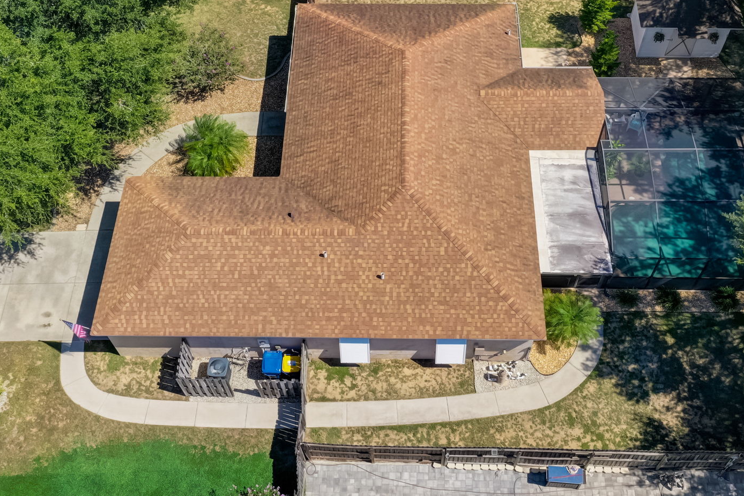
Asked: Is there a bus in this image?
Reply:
No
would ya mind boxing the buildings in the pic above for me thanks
[628,0,743,57]
[90,1,615,365]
